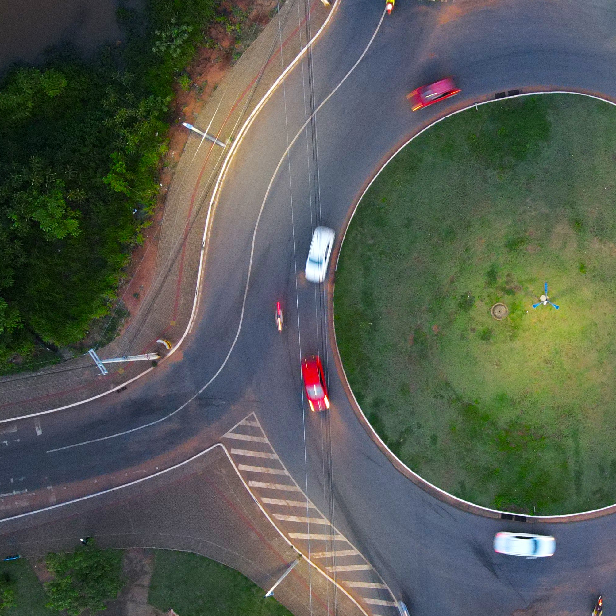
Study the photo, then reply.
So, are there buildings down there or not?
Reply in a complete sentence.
No, the scene contains no building.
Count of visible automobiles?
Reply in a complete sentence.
There are 4 automobiles in the image.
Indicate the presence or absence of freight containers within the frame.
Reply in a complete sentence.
No, the photo shows no freight container.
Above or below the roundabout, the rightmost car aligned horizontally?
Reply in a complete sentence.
The rightmost car aligned horizontally appears below the roundabout in the picture.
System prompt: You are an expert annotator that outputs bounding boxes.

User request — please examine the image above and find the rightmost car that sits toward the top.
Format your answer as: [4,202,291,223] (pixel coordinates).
[410,78,461,116]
